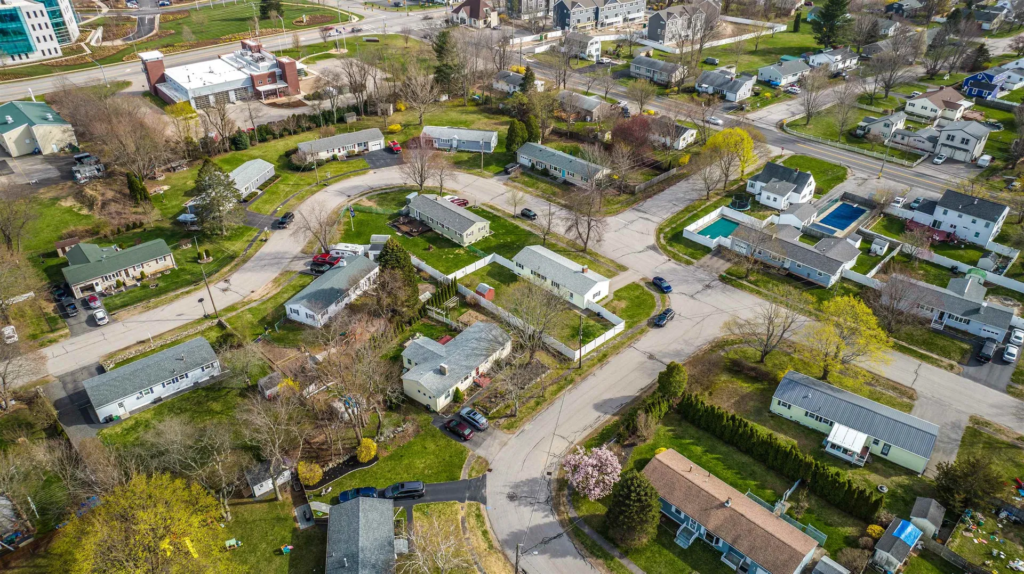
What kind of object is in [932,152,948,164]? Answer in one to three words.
vehicle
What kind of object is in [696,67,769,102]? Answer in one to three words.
house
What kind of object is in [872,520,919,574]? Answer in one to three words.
shed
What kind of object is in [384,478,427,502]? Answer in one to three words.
vehicle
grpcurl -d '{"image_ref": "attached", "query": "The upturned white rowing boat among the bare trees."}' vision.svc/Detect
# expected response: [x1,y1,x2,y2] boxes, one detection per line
[302,381,334,399]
